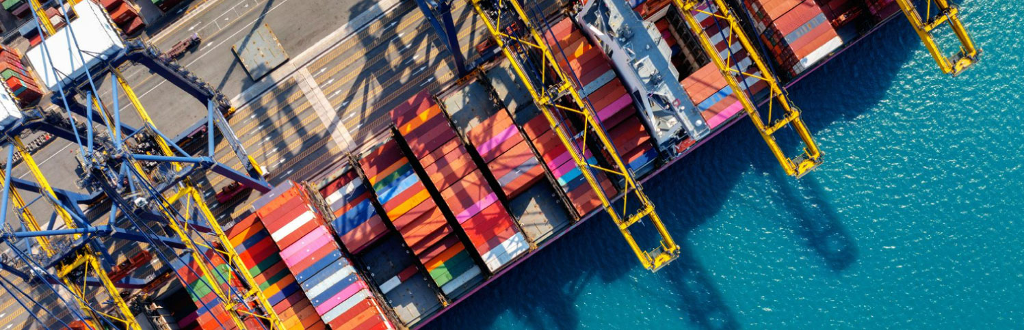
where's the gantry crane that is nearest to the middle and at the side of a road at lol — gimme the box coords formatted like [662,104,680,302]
[394,0,688,280]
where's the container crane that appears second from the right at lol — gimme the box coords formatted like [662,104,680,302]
[676,0,834,183]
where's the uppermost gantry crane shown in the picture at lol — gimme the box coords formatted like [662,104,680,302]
[892,0,987,84]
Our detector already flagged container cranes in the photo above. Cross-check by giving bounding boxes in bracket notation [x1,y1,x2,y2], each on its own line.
[0,80,213,330]
[676,0,834,183]
[17,0,292,330]
[892,0,987,84]
[394,0,688,280]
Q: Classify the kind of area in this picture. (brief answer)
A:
port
